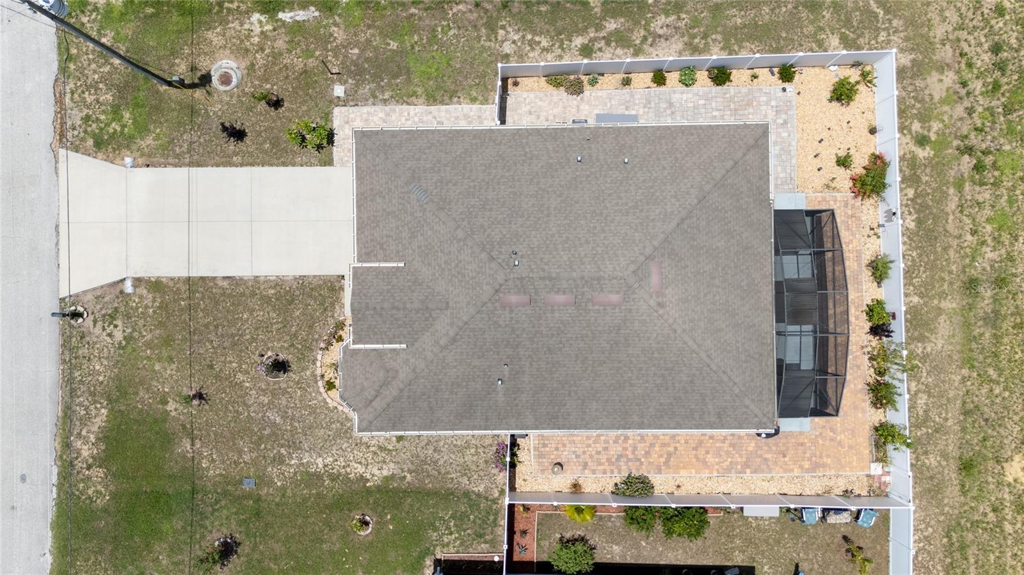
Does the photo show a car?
No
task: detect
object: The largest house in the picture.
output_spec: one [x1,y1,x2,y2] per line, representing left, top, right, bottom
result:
[336,119,779,436]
